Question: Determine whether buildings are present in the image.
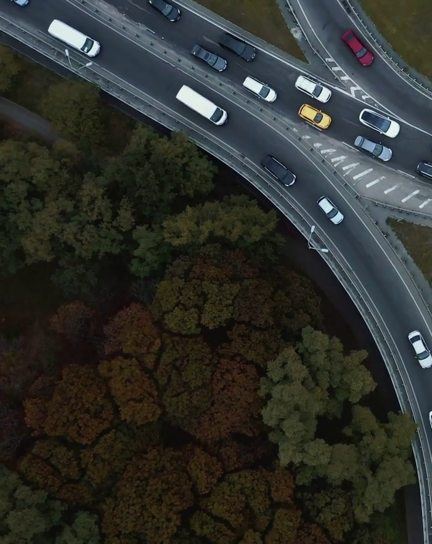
No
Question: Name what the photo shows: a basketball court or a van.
van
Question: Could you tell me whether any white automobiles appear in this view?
Yes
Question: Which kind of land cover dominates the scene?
trees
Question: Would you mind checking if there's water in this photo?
No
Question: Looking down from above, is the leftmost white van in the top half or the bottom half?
top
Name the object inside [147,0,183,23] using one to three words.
car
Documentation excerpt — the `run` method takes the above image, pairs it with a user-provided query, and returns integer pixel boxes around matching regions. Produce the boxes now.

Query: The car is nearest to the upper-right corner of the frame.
[342,31,374,68]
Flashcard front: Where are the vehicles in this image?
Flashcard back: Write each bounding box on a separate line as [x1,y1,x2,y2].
[408,330,432,368]
[46,18,104,59]
[359,109,400,139]
[315,195,345,225]
[10,0,31,8]
[297,103,333,132]
[353,134,393,163]
[293,75,333,104]
[240,75,278,104]
[416,161,432,180]
[173,84,230,127]
[191,44,229,73]
[218,33,258,62]
[147,0,183,23]
[342,31,374,68]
